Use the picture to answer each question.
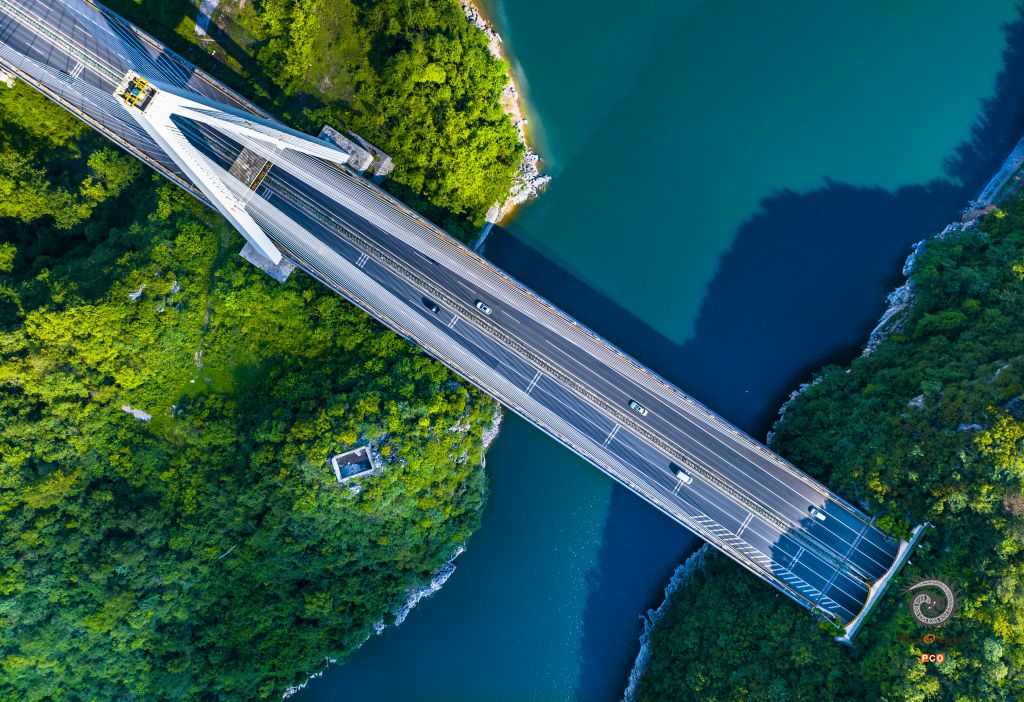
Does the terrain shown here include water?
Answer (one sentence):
Yes, some water is visible.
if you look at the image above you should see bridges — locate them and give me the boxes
[0,0,875,611]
